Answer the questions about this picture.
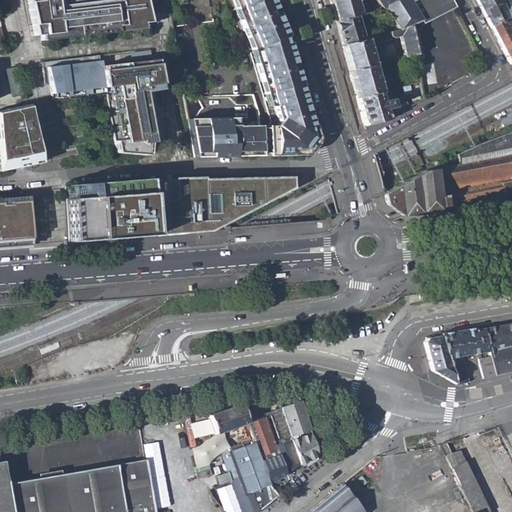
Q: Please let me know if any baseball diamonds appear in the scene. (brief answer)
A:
No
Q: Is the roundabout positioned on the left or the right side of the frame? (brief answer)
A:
right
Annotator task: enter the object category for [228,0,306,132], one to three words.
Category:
building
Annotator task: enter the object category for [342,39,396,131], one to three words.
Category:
house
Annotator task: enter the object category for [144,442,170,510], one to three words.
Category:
shed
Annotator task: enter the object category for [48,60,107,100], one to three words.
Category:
building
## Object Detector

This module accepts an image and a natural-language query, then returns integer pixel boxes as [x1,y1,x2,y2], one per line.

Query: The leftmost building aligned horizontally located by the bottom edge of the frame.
[16,465,130,512]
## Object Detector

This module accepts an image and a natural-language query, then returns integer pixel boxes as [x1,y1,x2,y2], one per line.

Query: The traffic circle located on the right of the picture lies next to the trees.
[337,216,396,275]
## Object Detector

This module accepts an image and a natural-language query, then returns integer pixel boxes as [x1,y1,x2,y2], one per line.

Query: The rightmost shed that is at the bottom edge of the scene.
[446,450,490,512]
